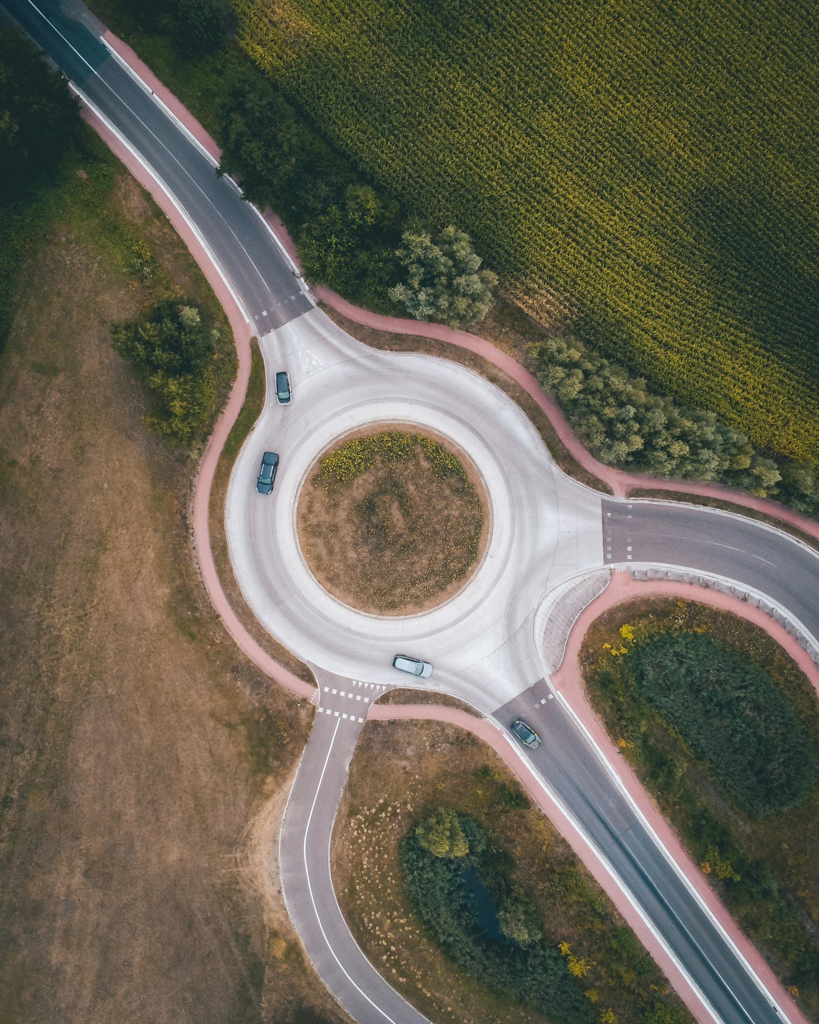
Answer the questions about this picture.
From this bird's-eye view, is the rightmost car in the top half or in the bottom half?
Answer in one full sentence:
The rightmost car is in the bottom half of the image.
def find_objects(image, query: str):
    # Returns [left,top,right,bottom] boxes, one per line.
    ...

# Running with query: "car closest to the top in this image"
[273,370,292,406]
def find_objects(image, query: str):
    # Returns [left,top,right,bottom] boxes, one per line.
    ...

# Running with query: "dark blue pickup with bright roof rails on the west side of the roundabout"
[255,451,278,495]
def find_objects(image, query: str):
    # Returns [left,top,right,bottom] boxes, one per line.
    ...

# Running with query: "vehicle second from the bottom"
[392,653,433,678]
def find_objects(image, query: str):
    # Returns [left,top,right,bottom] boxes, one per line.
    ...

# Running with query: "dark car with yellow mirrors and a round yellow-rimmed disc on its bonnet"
[510,718,541,750]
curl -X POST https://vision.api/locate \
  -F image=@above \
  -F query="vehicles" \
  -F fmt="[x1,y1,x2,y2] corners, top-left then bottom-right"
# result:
[510,718,541,750]
[255,451,278,495]
[392,653,433,678]
[273,370,292,406]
